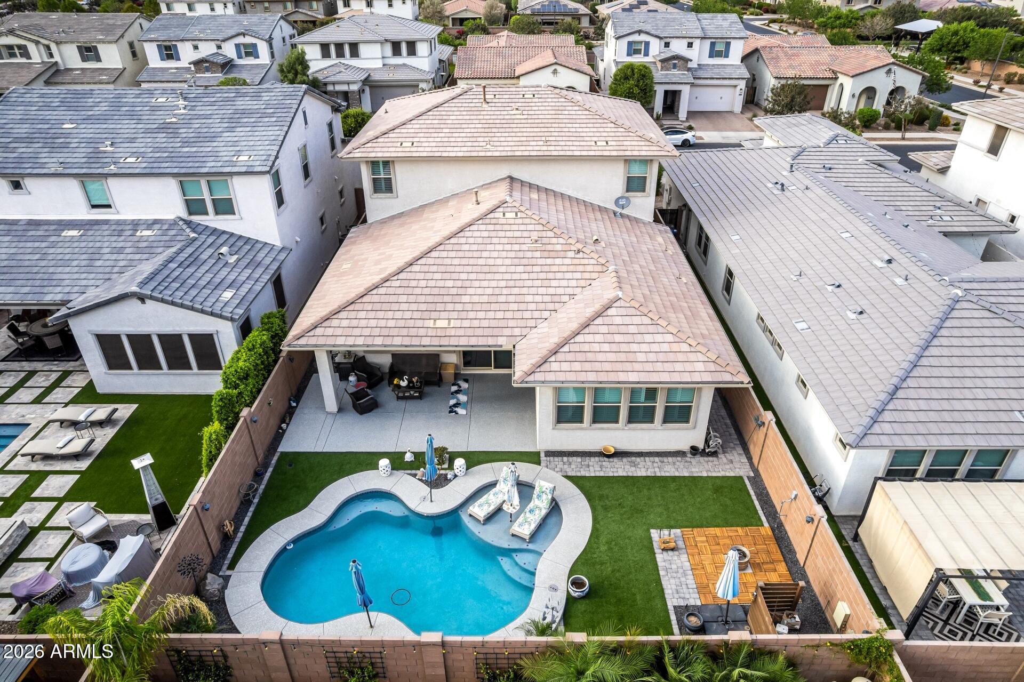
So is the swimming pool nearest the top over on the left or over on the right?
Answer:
left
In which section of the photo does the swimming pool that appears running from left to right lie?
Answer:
bottom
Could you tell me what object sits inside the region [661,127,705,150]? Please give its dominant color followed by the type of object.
white car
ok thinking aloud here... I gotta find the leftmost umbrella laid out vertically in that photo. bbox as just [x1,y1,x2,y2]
[350,559,375,629]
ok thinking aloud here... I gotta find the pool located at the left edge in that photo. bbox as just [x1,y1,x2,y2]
[0,423,31,453]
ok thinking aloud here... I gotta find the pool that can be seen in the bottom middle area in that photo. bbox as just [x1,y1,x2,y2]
[262,483,563,634]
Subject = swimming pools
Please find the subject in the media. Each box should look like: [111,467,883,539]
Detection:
[262,483,563,634]
[0,423,31,453]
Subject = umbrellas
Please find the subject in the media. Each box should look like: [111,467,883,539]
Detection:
[716,543,744,614]
[350,559,375,629]
[421,433,438,502]
[501,459,520,510]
